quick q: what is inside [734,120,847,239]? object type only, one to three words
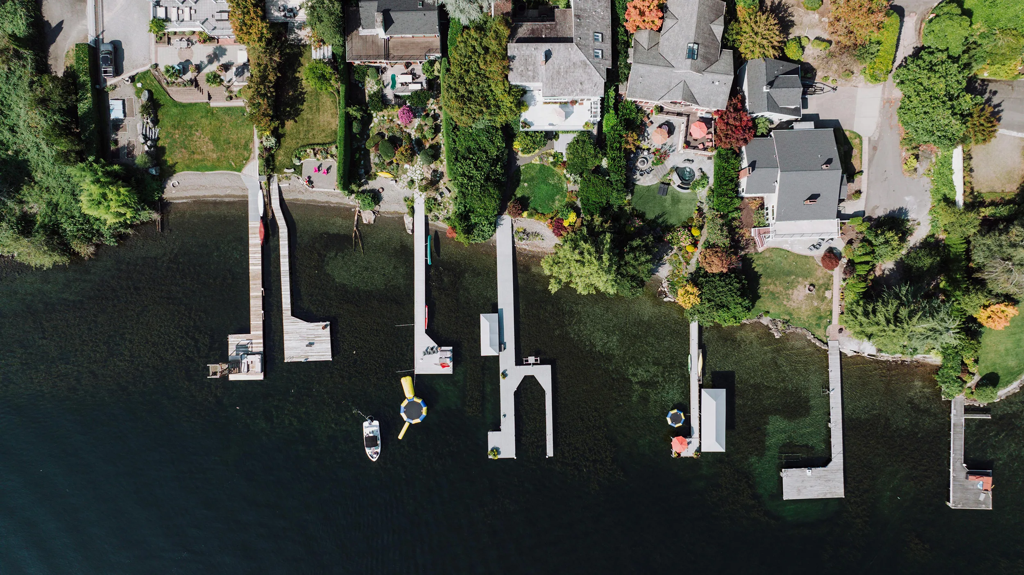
house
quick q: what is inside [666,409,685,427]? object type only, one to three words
trampoline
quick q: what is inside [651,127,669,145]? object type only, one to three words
umbrella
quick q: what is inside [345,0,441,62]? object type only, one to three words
house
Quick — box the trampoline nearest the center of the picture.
[400,397,428,424]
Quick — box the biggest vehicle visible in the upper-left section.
[99,45,118,80]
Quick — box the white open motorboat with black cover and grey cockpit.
[363,417,379,463]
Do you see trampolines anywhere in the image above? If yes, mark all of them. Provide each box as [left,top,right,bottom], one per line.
[666,409,685,427]
[400,397,428,424]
